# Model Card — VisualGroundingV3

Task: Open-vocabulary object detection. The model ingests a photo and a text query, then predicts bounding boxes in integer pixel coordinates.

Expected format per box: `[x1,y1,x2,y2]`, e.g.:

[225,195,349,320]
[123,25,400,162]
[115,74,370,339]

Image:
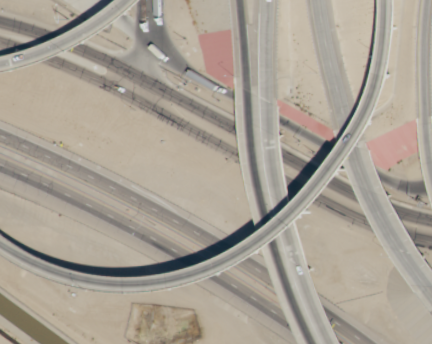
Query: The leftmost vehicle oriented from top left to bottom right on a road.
[150,44,170,60]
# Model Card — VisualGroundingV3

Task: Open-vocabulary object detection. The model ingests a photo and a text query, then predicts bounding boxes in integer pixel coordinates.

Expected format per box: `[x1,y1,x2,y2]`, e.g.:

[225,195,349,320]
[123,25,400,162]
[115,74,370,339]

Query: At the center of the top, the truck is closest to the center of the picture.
[185,68,226,94]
